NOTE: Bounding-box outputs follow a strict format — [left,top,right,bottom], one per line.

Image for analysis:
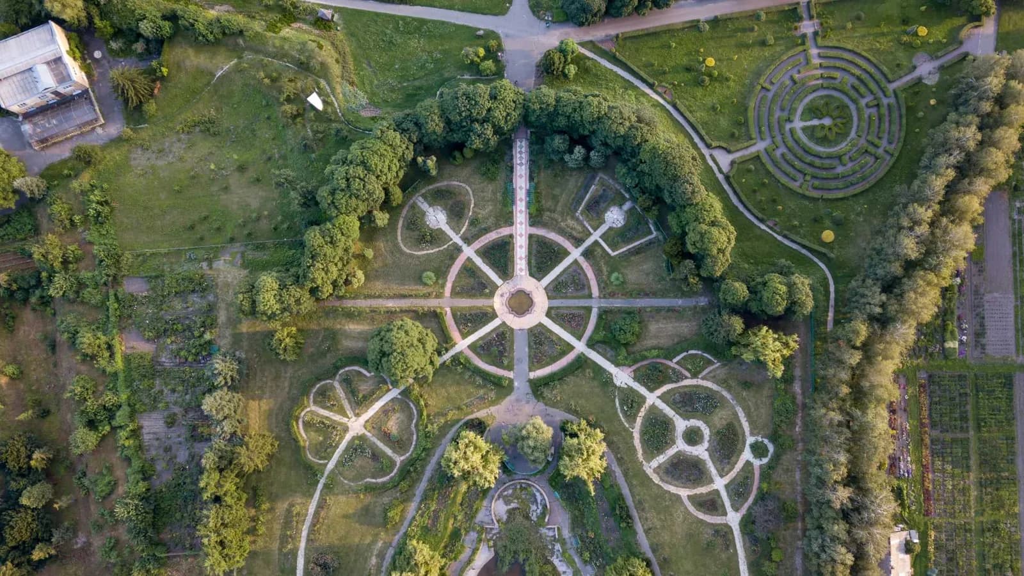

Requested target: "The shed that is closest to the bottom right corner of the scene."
[884,526,912,576]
